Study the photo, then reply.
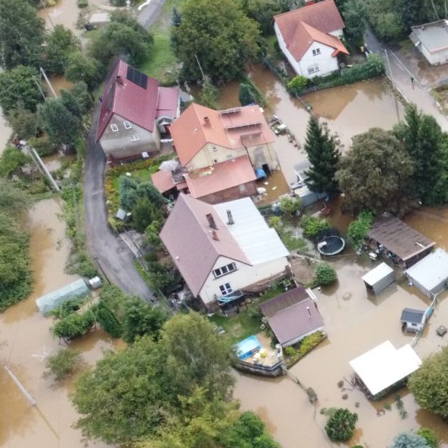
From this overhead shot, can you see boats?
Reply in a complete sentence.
No, there's no boat here.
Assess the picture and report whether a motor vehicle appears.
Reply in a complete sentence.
No, there's no motor vehicle here.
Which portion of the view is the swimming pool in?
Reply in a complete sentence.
The swimming pool is in the bottom part of the image.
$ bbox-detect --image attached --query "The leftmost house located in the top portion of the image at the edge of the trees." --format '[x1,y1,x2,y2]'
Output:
[95,61,161,160]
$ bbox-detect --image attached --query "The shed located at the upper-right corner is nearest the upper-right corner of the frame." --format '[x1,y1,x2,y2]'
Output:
[411,19,448,66]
